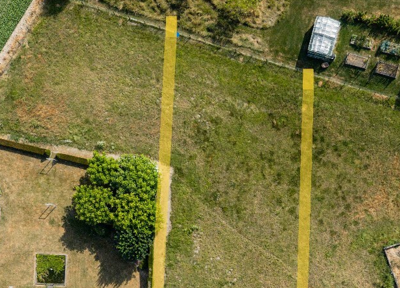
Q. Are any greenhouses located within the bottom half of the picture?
No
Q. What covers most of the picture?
grass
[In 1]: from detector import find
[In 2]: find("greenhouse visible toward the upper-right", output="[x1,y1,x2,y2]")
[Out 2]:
[308,15,341,61]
